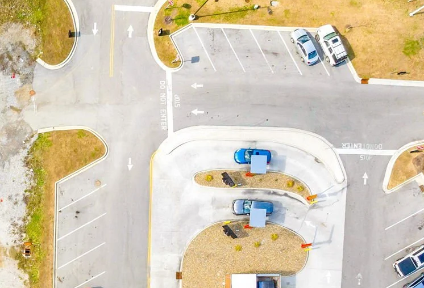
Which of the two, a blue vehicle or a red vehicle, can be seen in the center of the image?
blue vehicle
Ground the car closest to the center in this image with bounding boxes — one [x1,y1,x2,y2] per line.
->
[232,146,272,166]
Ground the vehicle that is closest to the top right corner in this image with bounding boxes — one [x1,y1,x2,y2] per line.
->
[316,24,349,68]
